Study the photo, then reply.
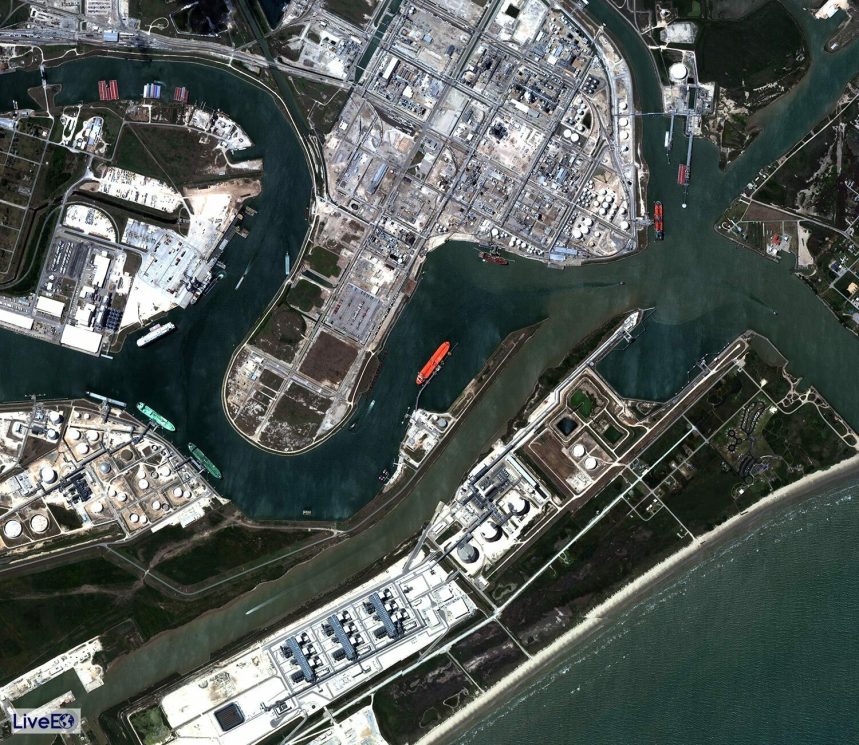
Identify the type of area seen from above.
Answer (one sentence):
This image shows a port.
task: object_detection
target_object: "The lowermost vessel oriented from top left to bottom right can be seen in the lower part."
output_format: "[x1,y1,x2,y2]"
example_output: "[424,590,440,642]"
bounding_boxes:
[186,442,221,479]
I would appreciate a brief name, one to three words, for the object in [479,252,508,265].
ship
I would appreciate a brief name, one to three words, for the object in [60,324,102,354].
building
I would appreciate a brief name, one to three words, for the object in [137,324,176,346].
ship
